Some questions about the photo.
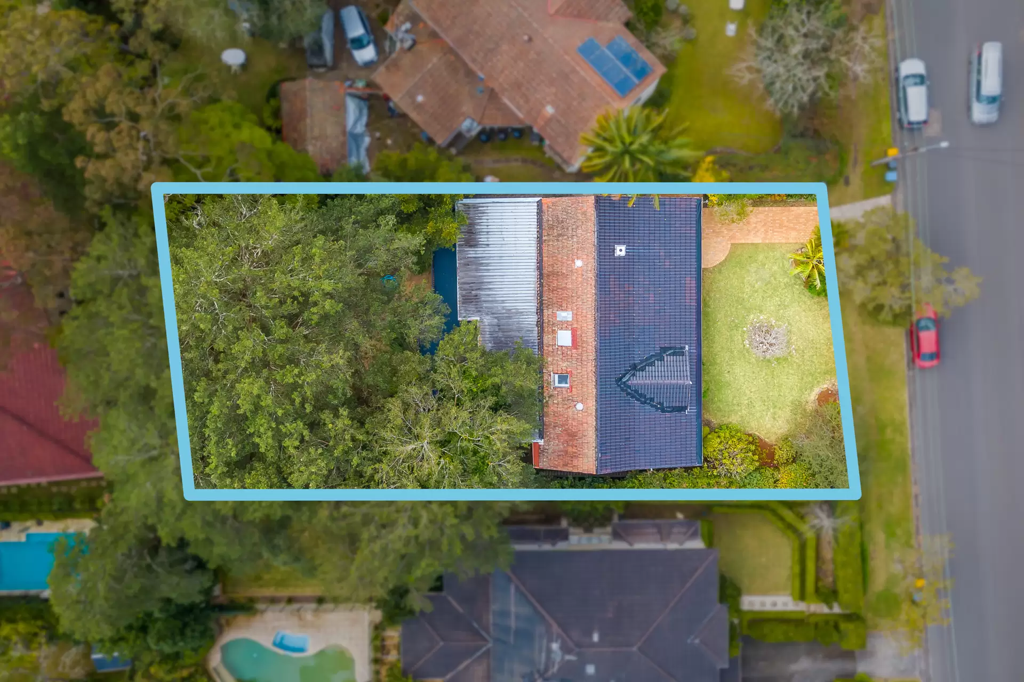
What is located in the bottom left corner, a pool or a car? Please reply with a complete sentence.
Visible in the bottom left corner is a pool.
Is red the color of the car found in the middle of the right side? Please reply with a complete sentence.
Yes, the car found in the middle of the right side is indeed red.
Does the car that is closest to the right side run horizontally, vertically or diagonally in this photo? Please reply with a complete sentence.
The car that is closest to the right side is oriented vertically.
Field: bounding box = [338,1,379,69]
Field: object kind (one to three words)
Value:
car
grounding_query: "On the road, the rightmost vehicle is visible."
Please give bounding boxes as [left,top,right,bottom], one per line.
[967,44,1005,123]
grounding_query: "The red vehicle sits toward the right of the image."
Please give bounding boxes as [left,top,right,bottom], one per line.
[909,307,942,369]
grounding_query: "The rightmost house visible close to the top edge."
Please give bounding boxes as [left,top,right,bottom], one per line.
[371,0,668,166]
